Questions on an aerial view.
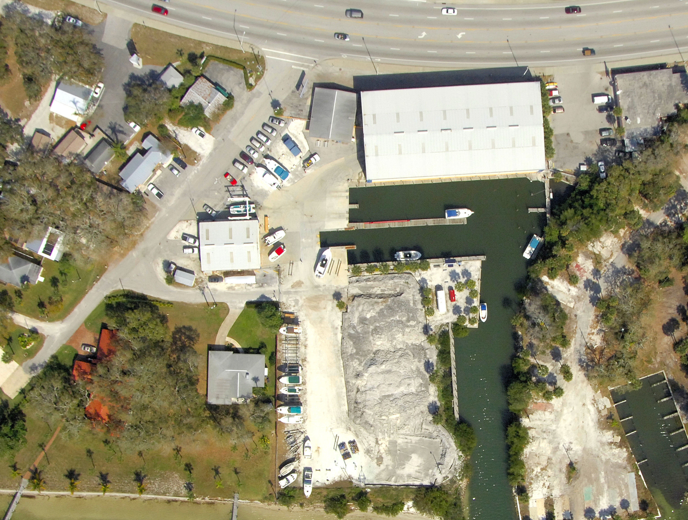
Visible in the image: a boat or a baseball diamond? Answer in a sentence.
Of the two, only a boat appears.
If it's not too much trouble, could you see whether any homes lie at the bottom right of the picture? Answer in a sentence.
No, I see no home at the bottom right of the picture.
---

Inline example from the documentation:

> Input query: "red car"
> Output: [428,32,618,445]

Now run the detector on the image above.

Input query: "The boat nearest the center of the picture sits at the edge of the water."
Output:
[314,248,330,278]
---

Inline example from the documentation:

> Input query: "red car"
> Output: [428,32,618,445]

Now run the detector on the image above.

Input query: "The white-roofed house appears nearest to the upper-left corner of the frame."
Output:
[51,81,92,121]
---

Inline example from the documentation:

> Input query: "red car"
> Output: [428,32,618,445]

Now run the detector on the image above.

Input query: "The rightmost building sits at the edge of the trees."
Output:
[615,69,688,151]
